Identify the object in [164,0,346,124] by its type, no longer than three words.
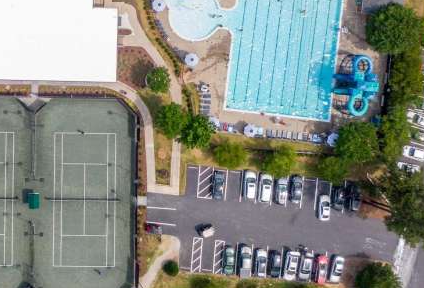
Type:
swimming pool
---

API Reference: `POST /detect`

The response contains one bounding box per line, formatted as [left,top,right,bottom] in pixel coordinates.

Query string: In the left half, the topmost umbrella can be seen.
[151,0,166,12]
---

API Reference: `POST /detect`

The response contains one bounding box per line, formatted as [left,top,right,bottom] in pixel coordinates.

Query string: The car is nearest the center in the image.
[211,170,226,198]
